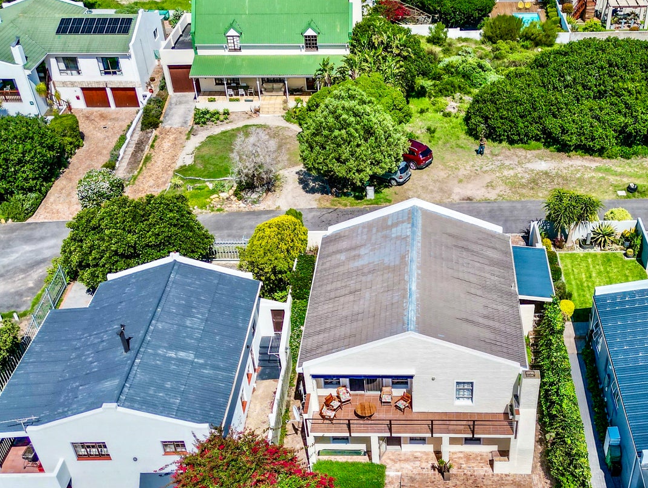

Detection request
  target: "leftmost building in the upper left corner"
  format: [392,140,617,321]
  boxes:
[0,0,159,115]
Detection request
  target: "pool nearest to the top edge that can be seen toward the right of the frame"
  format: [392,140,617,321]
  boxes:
[511,10,540,23]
